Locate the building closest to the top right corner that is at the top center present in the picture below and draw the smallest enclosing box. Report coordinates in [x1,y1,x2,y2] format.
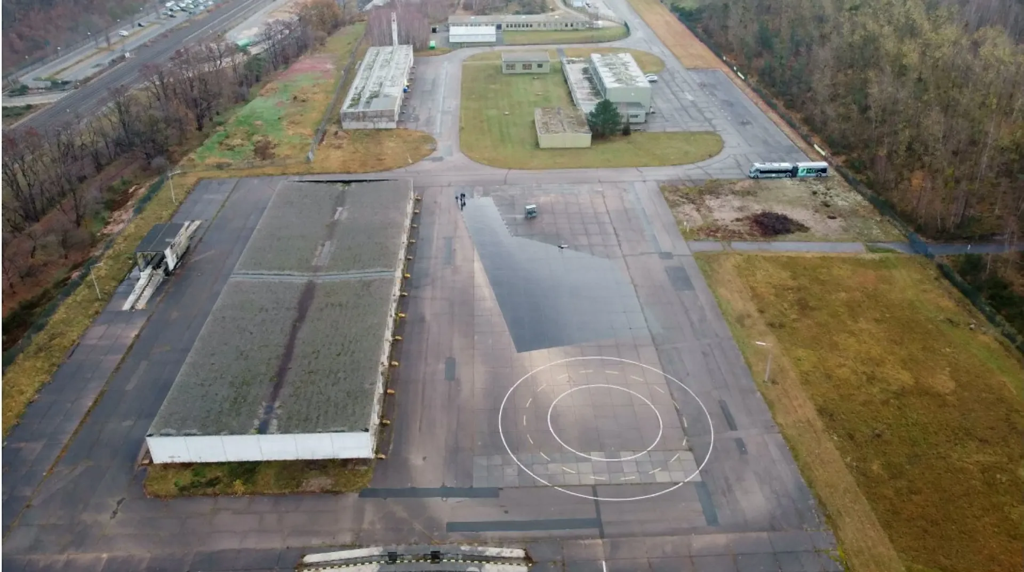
[562,53,653,121]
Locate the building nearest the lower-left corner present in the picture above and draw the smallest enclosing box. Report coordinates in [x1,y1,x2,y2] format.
[135,177,416,463]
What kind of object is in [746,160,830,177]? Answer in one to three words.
vehicle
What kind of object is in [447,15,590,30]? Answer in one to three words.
building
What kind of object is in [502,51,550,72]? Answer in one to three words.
shed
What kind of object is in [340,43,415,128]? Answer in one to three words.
building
